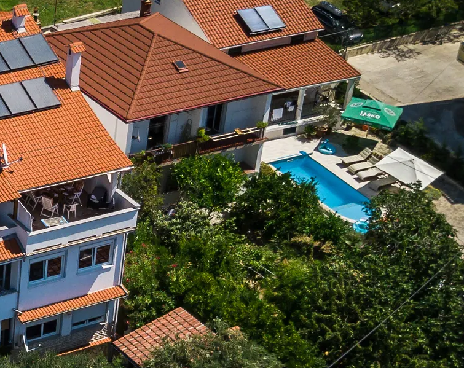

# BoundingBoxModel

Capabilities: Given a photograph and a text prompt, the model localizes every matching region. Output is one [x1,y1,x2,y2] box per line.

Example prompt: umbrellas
[335,98,409,148]
[370,150,451,202]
